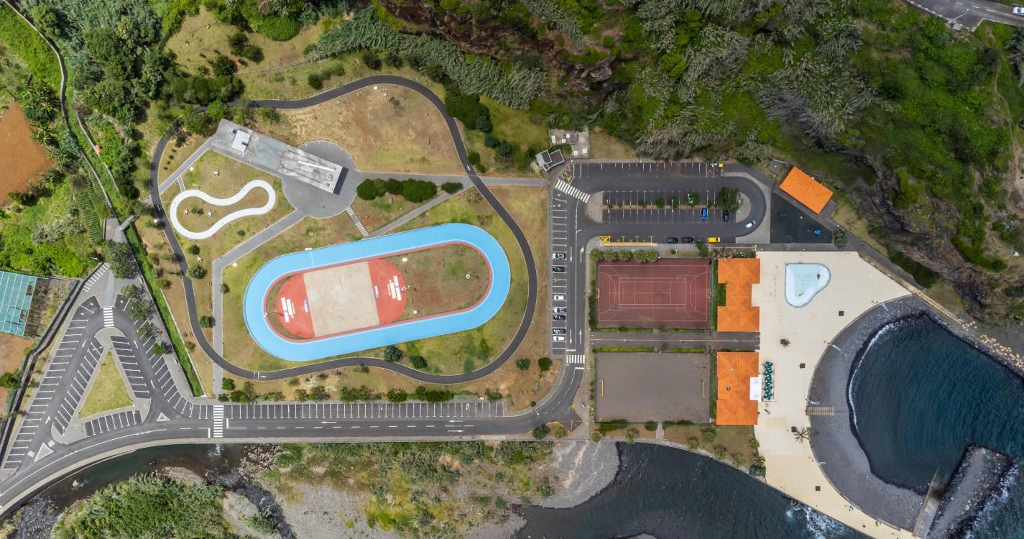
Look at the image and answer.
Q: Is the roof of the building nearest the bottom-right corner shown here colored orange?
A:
Yes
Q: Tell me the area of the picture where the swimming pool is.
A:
right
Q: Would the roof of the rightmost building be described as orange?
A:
Yes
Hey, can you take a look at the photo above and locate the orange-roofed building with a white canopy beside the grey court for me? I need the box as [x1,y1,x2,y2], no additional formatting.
[715,352,761,425]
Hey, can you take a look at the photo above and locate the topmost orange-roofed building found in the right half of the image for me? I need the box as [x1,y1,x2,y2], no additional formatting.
[778,166,834,214]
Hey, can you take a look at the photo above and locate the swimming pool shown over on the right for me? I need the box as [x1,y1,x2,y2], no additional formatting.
[784,262,831,308]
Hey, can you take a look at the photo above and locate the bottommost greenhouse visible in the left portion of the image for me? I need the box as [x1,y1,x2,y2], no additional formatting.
[0,269,37,336]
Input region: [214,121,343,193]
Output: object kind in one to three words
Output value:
building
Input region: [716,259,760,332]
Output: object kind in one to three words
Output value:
building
